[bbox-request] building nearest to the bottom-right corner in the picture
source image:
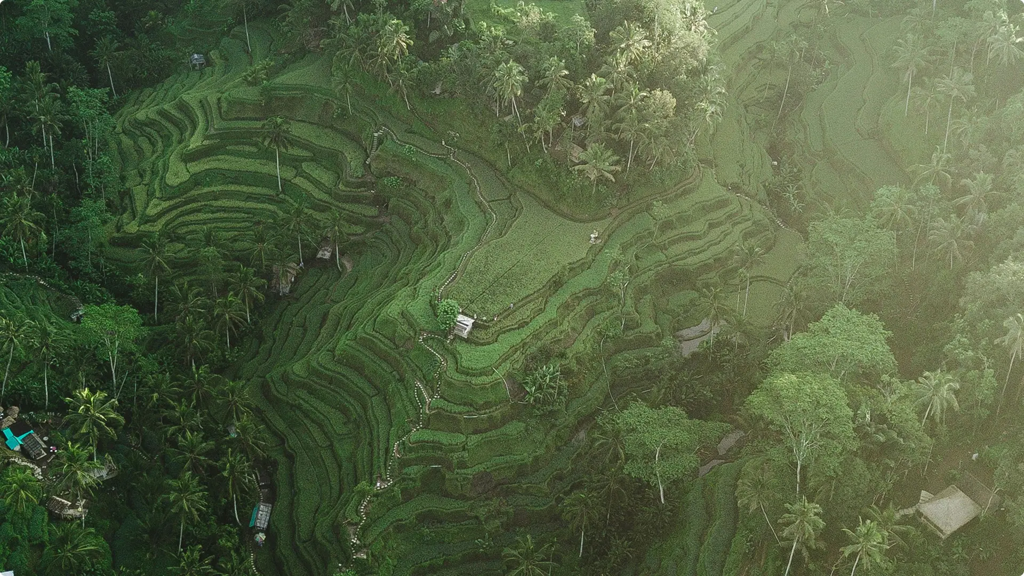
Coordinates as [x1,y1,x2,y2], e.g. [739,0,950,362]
[918,490,987,545]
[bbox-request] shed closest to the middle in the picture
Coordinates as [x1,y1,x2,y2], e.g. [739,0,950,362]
[445,311,478,352]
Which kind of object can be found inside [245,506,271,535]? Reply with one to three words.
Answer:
shed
